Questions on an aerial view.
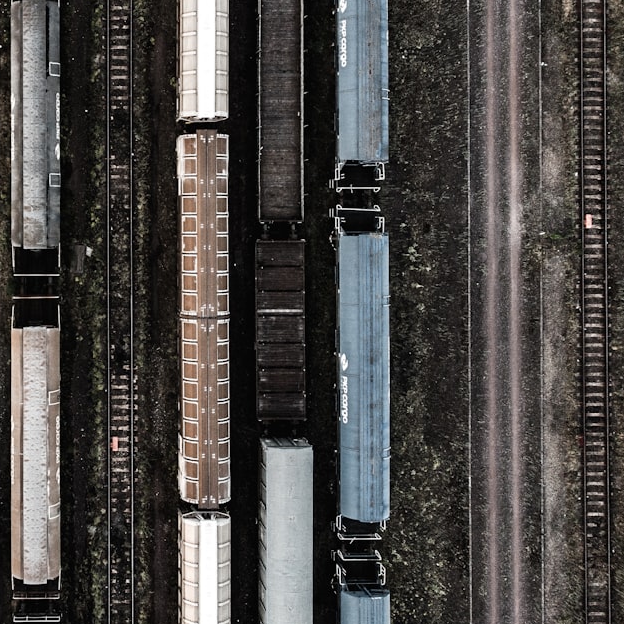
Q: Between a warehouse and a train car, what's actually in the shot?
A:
train car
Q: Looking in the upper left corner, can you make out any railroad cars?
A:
Yes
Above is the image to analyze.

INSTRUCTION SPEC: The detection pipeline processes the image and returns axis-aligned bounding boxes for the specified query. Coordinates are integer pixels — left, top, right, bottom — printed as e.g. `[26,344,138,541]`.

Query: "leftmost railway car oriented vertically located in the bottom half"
[9,286,62,605]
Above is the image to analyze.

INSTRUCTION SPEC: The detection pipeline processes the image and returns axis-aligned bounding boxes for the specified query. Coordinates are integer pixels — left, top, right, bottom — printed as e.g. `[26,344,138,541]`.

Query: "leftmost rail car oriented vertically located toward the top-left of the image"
[11,0,62,286]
